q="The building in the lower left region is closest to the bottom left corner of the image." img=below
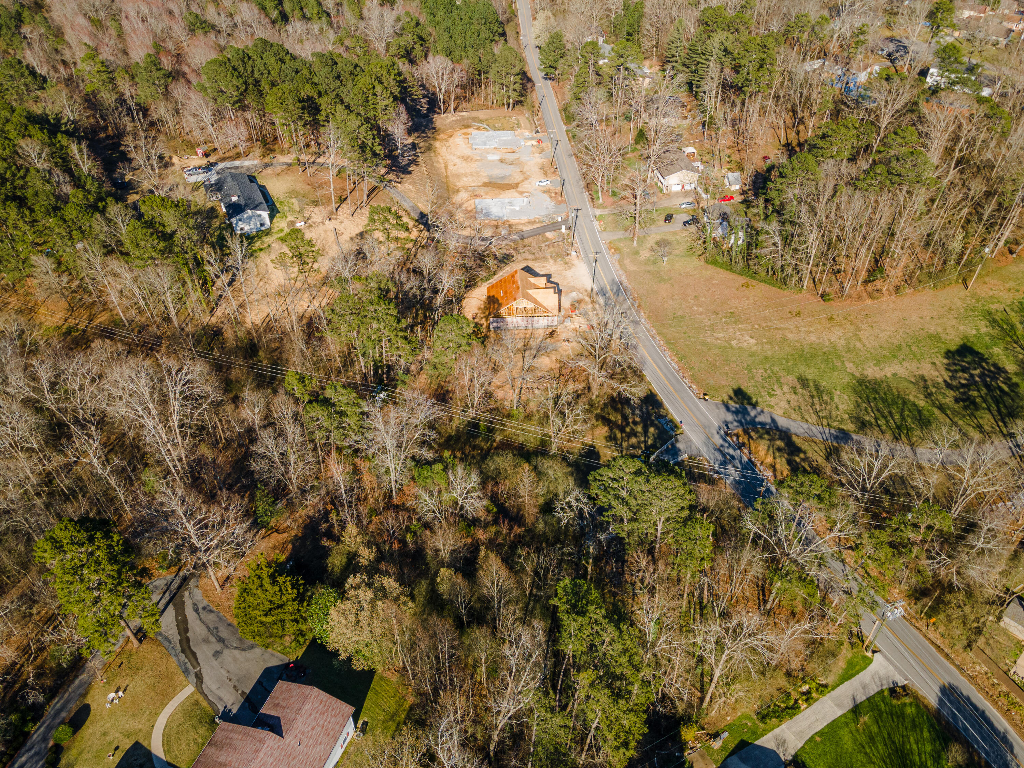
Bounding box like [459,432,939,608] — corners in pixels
[190,681,356,768]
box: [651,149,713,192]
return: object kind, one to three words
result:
house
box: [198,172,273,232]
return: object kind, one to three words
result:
house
